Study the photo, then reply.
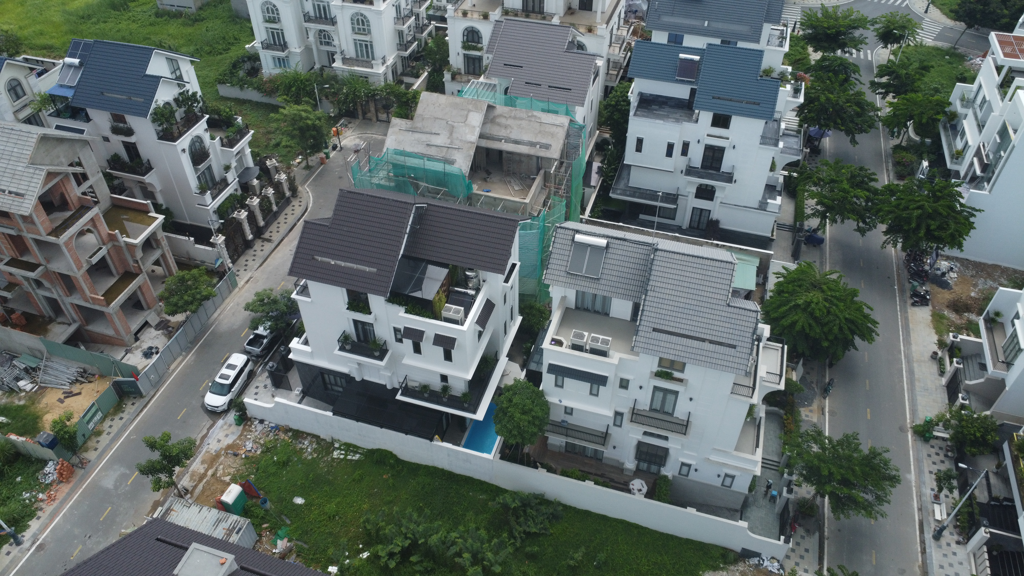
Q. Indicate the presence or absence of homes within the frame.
Yes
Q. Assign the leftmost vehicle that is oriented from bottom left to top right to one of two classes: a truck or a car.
car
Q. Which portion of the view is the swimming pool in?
bottom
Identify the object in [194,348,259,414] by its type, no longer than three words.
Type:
car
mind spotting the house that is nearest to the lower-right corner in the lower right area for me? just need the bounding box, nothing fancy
[958,439,1024,576]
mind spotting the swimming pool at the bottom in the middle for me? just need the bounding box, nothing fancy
[459,405,510,457]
